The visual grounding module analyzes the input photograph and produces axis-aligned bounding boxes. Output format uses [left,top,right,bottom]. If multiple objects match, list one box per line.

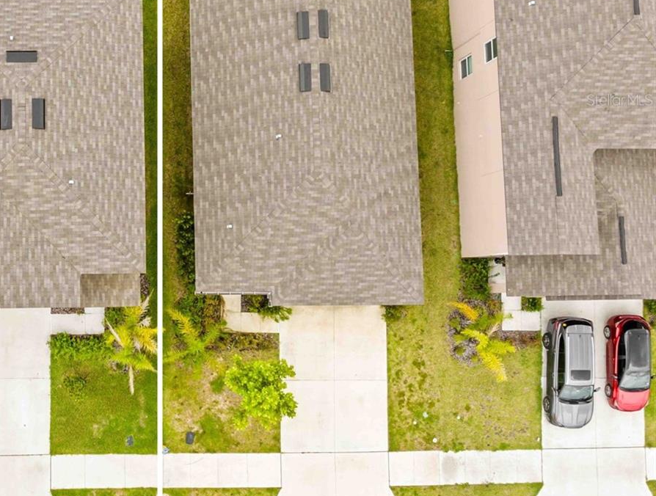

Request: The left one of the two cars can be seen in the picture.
[539,316,602,431]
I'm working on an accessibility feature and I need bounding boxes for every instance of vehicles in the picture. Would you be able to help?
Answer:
[539,316,602,431]
[599,312,656,411]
